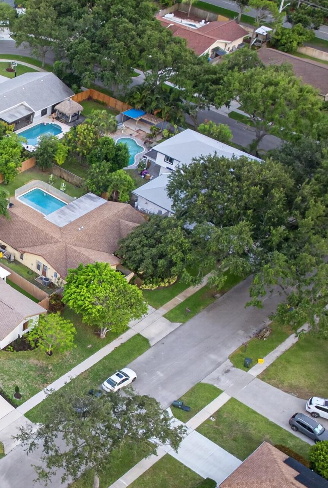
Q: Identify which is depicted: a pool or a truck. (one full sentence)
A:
Looking from above, you can make out a pool.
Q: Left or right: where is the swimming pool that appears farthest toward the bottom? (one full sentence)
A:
The swimming pool that appears farthest toward the bottom is on the left side of the image.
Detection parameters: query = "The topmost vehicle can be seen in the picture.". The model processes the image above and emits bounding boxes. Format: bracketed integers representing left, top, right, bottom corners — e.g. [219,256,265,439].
[103,365,137,390]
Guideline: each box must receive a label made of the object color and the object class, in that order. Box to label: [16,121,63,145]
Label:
blue swimming pool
